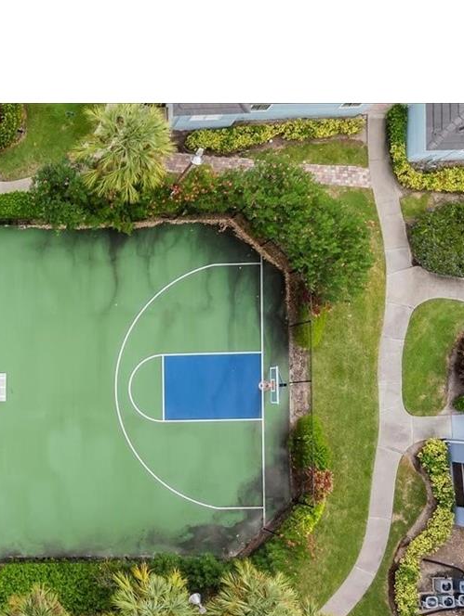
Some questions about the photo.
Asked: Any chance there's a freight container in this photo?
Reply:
No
